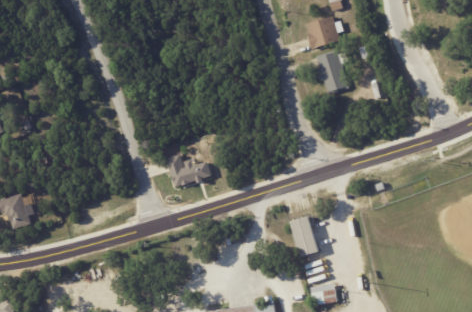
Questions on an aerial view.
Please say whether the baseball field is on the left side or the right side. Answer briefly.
right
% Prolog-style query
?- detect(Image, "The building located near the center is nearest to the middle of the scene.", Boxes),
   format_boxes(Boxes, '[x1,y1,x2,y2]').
[170,155,213,189]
